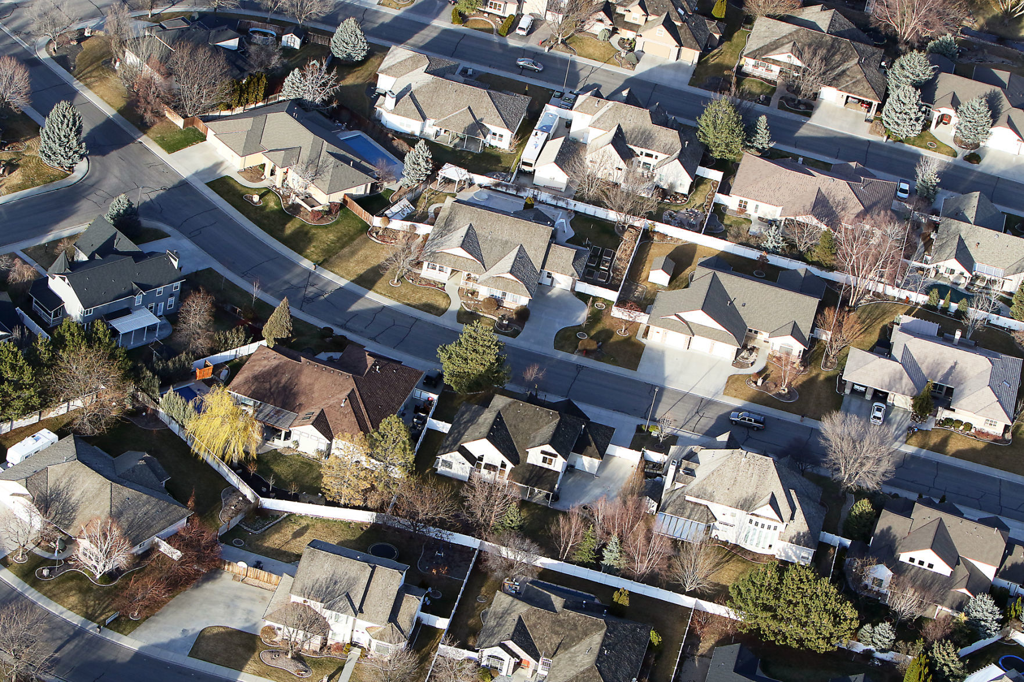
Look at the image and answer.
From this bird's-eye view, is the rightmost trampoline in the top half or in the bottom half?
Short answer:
bottom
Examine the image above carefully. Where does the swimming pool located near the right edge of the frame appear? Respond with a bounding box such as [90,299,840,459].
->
[923,282,1003,314]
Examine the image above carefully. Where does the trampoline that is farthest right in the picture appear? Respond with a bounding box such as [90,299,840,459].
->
[998,651,1024,677]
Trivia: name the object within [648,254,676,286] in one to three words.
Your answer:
shed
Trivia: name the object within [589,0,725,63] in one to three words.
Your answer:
house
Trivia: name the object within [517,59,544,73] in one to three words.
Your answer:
car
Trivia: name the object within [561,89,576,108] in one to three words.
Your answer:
vehicle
